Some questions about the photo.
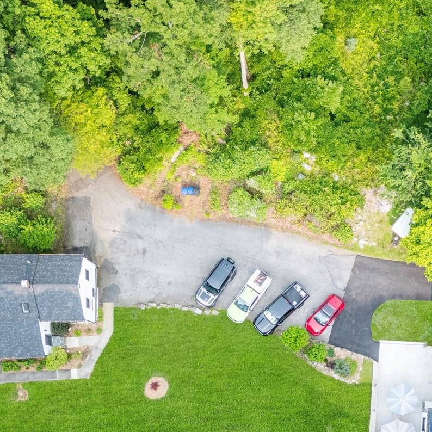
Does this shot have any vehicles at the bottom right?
Yes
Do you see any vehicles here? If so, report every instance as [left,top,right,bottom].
[227,263,274,328]
[308,291,345,338]
[199,258,235,306]
[255,277,310,338]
